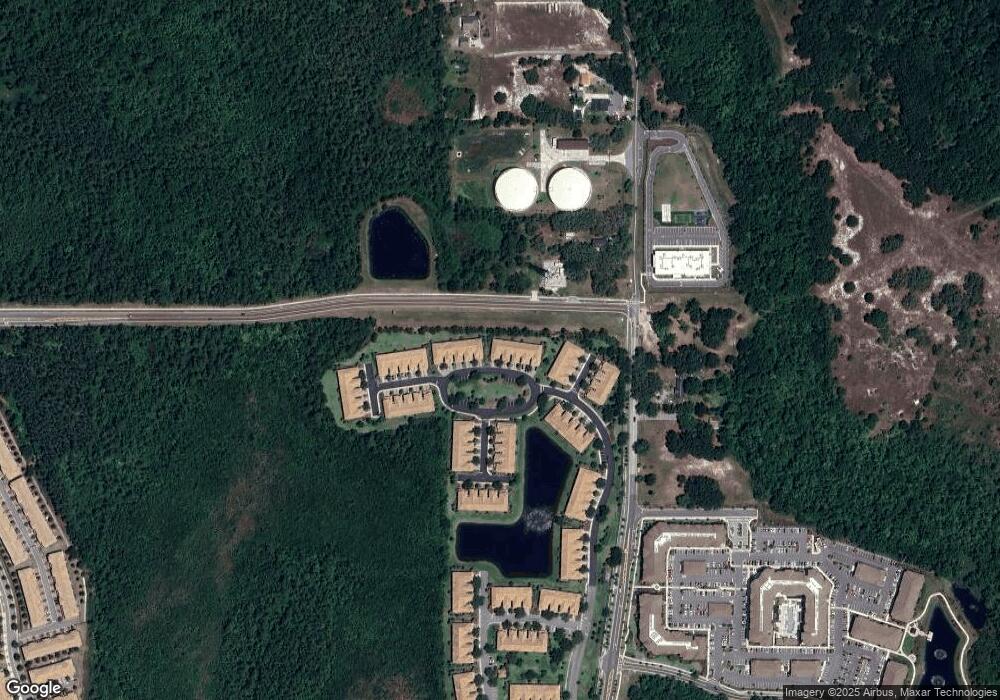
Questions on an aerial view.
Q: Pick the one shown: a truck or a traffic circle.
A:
traffic circle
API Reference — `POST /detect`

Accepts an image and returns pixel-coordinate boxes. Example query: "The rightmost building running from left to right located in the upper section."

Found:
[655,251,710,277]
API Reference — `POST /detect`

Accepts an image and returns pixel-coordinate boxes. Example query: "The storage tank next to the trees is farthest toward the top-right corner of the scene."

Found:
[547,166,593,212]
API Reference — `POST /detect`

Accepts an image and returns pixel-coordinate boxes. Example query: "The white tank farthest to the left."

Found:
[494,167,539,212]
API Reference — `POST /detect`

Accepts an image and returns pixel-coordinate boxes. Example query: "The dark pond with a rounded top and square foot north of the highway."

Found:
[368,206,430,279]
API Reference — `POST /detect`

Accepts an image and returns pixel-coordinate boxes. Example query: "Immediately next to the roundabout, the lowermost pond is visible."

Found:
[455,427,574,579]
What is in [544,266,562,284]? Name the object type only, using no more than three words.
building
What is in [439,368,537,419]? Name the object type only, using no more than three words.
roundabout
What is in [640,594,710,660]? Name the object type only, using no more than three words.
building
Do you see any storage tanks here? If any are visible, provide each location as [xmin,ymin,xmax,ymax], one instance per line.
[547,166,593,212]
[494,167,539,212]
